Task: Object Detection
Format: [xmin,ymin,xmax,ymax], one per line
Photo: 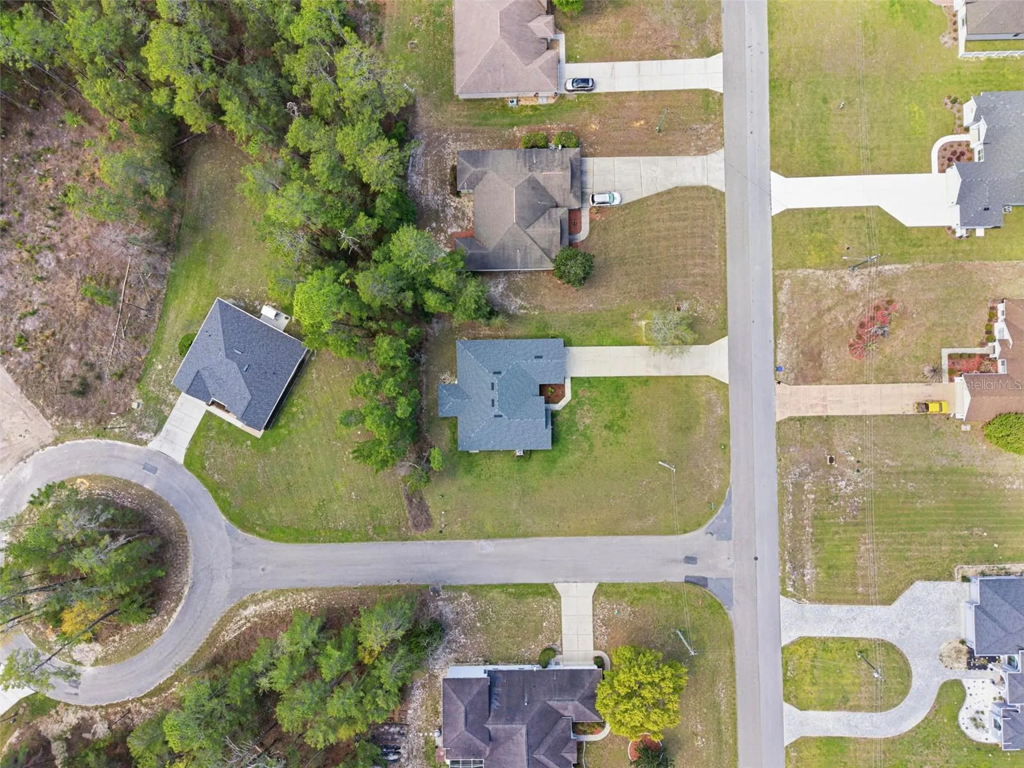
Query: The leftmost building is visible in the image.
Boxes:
[171,298,311,432]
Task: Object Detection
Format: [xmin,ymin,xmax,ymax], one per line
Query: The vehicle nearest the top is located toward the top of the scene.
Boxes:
[565,76,594,93]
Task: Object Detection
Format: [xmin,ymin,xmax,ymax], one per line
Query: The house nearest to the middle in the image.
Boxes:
[437,338,565,452]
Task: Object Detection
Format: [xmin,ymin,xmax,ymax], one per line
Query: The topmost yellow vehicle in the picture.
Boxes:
[914,400,948,414]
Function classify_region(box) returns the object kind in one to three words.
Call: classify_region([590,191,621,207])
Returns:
car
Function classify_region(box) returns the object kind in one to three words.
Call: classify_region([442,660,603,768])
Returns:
house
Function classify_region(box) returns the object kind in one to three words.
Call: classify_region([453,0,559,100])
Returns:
house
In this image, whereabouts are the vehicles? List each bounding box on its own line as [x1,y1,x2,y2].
[914,400,948,414]
[590,191,621,207]
[565,76,594,93]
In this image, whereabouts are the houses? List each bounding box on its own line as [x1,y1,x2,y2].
[171,298,311,432]
[442,660,603,768]
[964,576,1024,751]
[453,0,559,100]
[455,146,582,273]
[953,299,1024,421]
[944,91,1024,230]
[437,338,565,452]
[946,0,1024,40]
